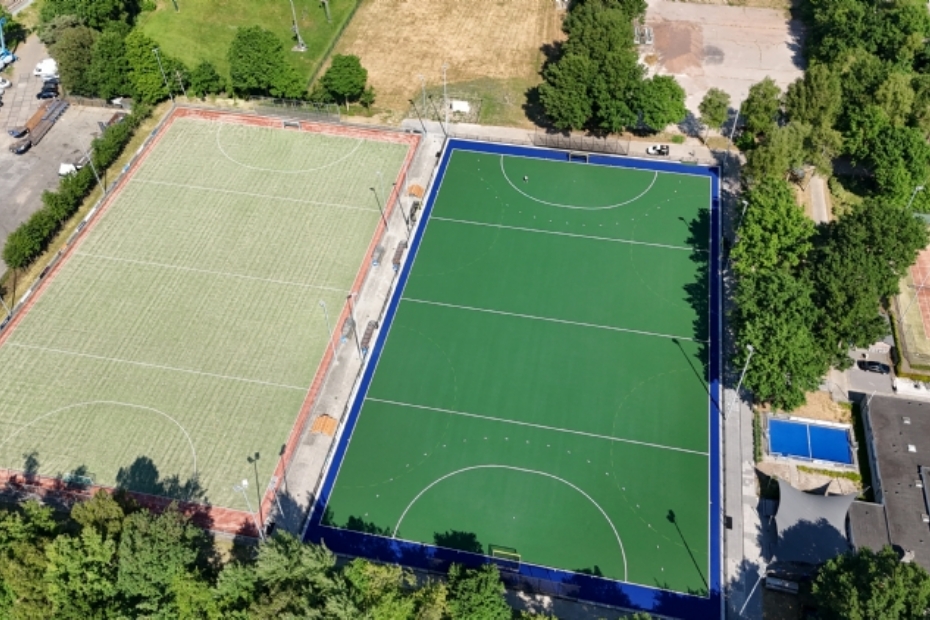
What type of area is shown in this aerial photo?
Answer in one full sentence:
The area seen from above is a sports ground.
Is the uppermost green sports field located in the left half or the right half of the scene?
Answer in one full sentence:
The uppermost green sports field is on the left side of the image.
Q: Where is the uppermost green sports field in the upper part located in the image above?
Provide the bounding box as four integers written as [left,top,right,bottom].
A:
[139,0,364,93]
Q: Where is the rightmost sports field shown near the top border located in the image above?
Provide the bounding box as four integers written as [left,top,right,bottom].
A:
[311,0,577,125]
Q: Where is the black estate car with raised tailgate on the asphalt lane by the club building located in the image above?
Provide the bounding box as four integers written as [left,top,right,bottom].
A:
[857,355,890,374]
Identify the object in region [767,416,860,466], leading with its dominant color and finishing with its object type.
blue sports court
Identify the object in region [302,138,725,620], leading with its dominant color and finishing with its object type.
green sports field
